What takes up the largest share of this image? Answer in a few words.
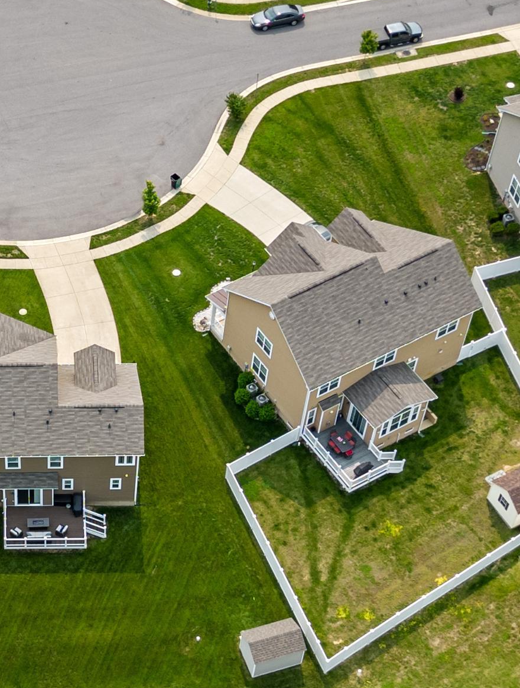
grass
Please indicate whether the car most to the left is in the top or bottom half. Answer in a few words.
top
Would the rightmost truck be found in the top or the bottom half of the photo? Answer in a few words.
top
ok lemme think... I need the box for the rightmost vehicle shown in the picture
[363,17,429,51]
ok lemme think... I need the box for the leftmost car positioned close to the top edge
[249,4,306,32]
